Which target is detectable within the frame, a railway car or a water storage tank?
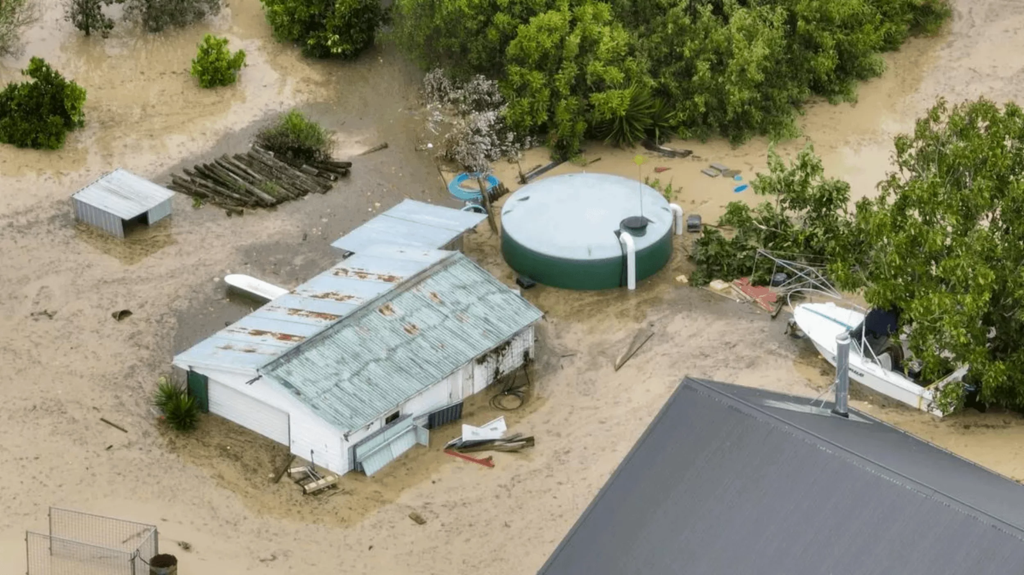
water storage tank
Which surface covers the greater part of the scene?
water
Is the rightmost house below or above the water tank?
below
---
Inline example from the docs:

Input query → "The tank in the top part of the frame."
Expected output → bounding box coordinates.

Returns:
[500,156,682,290]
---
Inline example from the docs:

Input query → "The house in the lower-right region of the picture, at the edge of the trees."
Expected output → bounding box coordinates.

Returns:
[543,326,1024,575]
